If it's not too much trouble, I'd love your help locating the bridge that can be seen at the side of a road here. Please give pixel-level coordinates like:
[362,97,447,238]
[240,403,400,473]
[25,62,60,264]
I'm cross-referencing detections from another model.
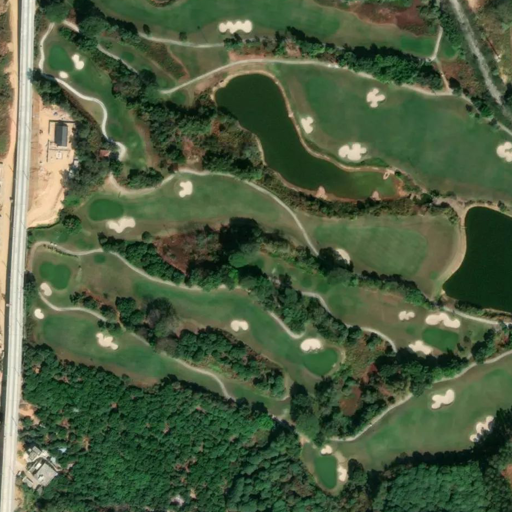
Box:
[0,0,34,512]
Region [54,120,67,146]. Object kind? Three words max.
shed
